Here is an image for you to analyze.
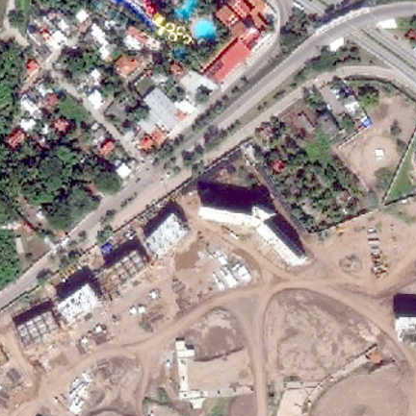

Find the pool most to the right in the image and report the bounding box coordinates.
[193,18,215,41]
